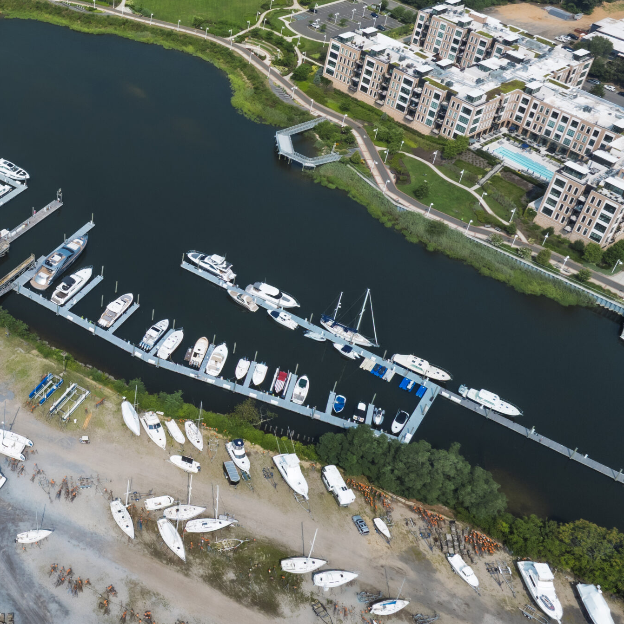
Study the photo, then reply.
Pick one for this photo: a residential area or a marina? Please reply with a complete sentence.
The picture captures a marina.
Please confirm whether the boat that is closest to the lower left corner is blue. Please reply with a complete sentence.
No, the boat that is closest to the lower left corner is actually white.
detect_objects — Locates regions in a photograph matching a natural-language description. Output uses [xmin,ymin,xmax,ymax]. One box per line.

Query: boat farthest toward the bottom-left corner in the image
[16,501,53,545]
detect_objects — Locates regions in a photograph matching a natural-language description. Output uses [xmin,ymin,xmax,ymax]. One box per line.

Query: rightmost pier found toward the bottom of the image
[438,389,624,485]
